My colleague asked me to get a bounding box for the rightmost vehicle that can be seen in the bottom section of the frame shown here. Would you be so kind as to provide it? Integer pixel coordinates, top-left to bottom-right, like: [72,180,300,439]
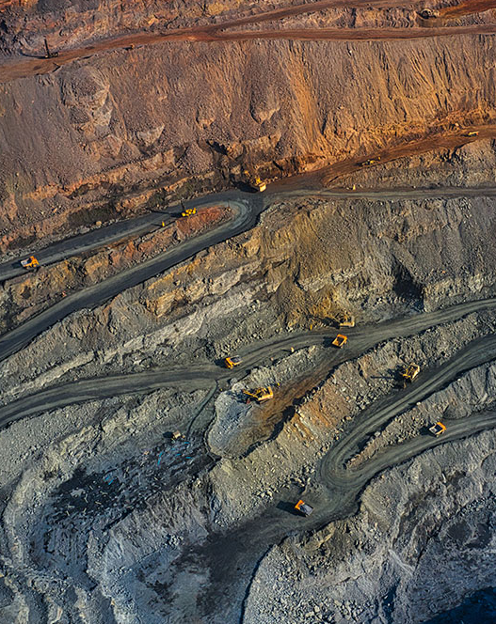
[429,418,448,435]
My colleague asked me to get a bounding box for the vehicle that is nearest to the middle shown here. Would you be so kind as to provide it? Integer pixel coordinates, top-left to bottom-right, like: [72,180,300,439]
[224,354,242,369]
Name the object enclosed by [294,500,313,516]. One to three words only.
vehicle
